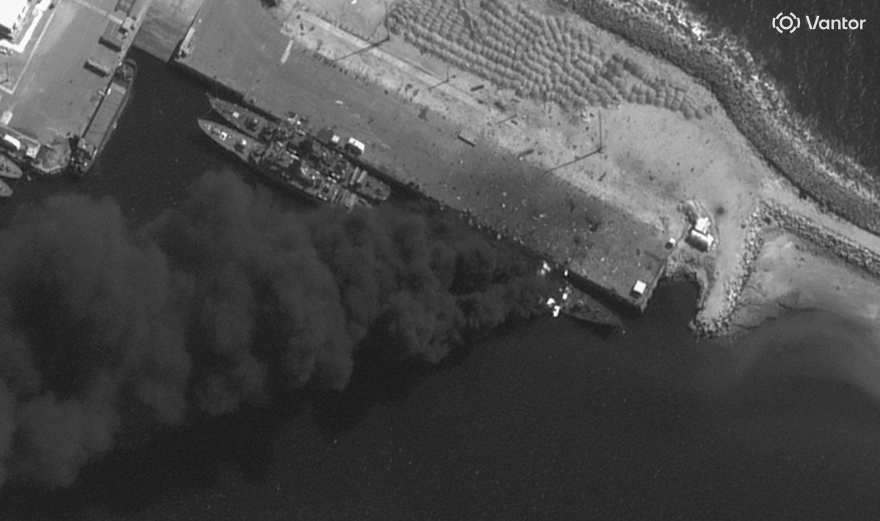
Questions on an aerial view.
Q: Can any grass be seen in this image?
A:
No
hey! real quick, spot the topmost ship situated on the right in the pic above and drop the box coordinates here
[451,226,623,331]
